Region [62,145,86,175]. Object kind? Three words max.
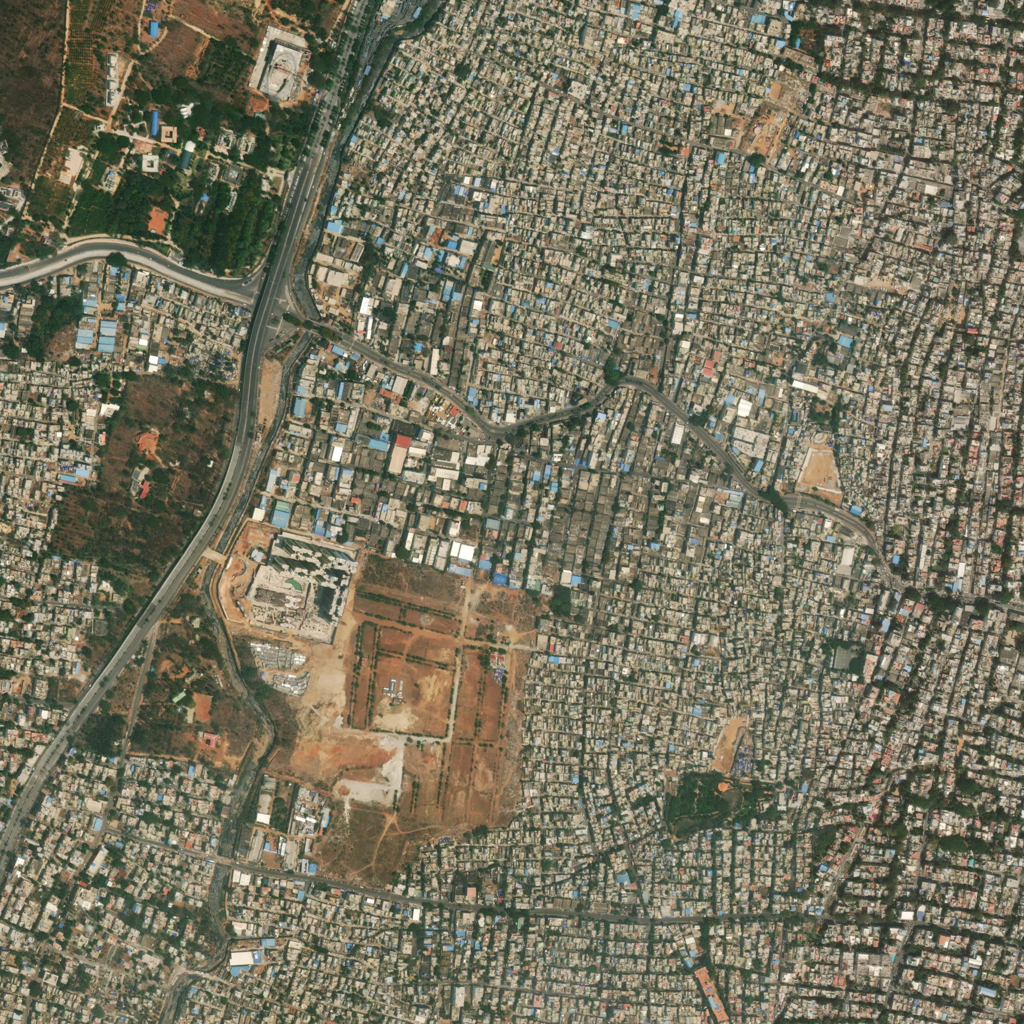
building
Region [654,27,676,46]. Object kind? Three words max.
building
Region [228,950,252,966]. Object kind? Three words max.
shed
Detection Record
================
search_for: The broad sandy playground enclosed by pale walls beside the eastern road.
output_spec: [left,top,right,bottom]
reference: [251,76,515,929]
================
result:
[795,433,844,508]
